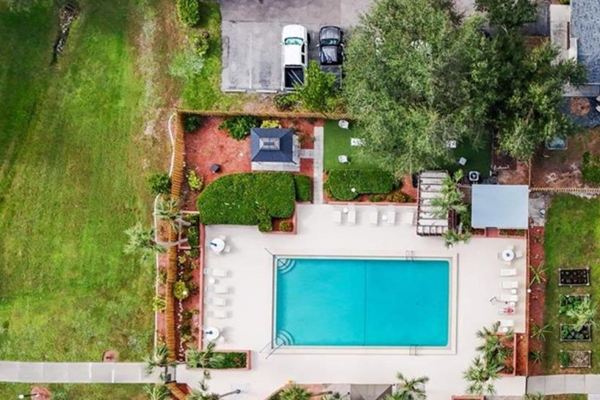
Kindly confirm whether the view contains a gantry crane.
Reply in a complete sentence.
No, I can see no gantry crane in this picture.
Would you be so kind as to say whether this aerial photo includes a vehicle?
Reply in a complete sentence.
Yes, the photo shows a vehicle.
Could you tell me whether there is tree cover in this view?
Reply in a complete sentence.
Yes, some tree cover is visible.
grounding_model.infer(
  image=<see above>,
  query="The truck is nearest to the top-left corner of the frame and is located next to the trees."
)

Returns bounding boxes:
[278,24,306,88]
